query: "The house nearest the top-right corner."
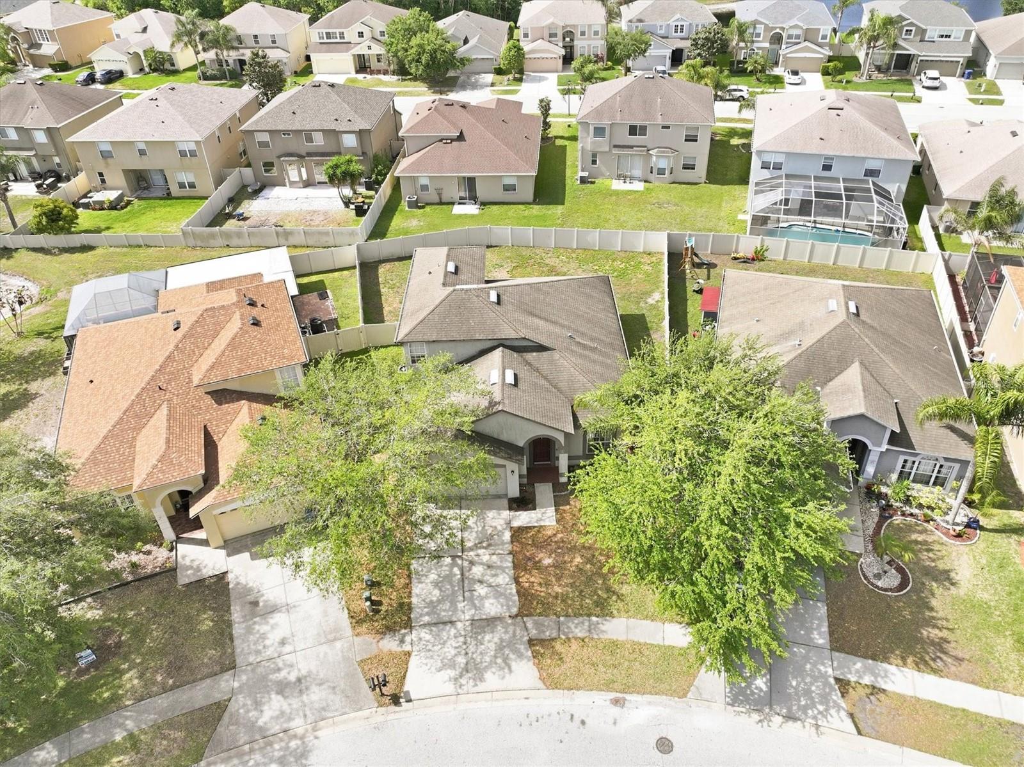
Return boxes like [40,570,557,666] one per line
[974,11,1024,76]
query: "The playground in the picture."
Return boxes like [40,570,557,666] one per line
[655,235,721,273]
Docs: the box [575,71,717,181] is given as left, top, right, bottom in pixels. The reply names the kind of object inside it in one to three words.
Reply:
house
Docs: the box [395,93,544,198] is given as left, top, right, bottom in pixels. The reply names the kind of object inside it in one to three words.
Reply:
house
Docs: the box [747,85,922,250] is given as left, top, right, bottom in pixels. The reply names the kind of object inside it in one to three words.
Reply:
building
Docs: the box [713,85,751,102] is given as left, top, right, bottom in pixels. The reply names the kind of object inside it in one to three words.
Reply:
car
